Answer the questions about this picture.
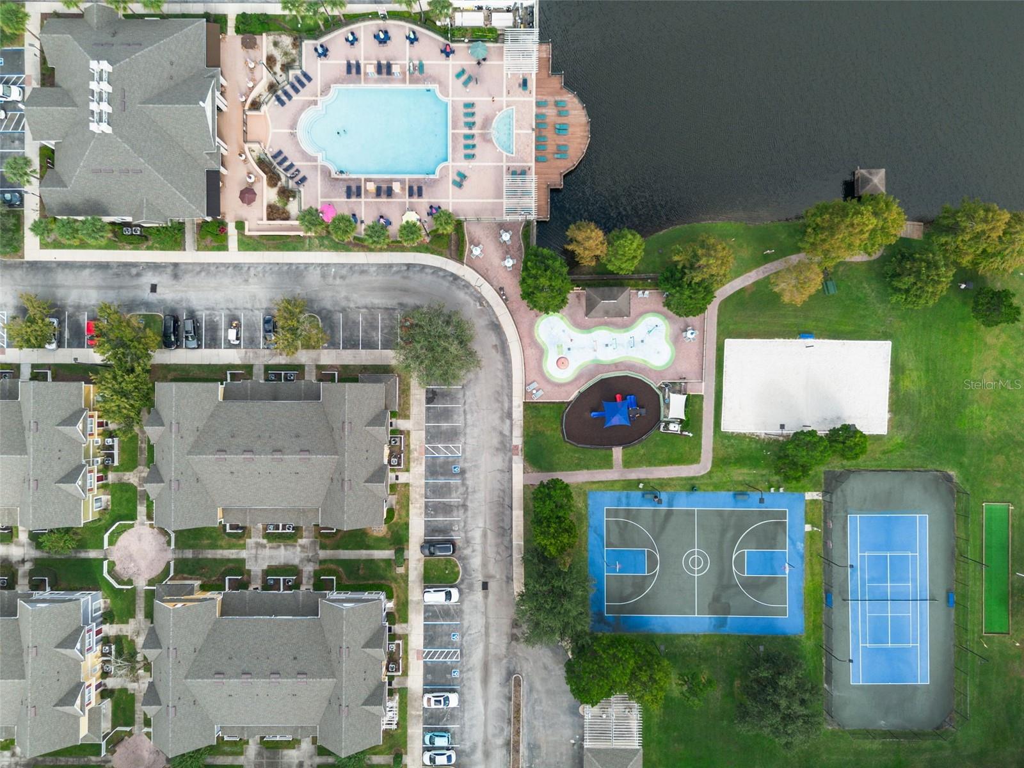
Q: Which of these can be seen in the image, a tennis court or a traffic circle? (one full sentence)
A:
There is a tennis court in the scene.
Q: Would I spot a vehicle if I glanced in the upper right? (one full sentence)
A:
No, I see no vehicle in the upper right.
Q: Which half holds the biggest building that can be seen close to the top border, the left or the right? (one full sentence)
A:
The biggest building that can be seen close to the top border appears in the left half of the scene.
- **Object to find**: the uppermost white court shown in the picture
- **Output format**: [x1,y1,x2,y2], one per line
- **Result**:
[721,339,892,435]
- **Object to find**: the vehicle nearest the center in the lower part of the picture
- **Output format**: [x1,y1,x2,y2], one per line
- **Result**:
[420,541,455,558]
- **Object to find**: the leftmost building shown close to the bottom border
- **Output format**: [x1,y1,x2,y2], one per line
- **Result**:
[0,590,112,757]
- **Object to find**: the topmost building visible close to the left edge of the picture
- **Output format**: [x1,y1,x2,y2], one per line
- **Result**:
[15,6,229,230]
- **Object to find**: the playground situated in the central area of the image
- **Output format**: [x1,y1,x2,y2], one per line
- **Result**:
[561,369,664,449]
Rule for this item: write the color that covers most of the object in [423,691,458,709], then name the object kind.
white car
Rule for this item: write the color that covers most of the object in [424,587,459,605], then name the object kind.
white car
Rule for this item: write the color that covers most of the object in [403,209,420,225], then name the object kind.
white umbrella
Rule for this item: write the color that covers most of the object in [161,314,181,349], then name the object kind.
black car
